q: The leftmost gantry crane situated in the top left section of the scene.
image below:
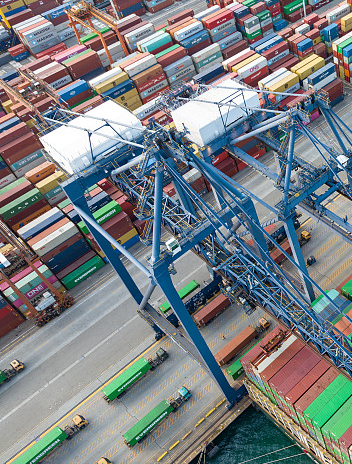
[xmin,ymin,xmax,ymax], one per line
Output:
[2,77,69,127]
